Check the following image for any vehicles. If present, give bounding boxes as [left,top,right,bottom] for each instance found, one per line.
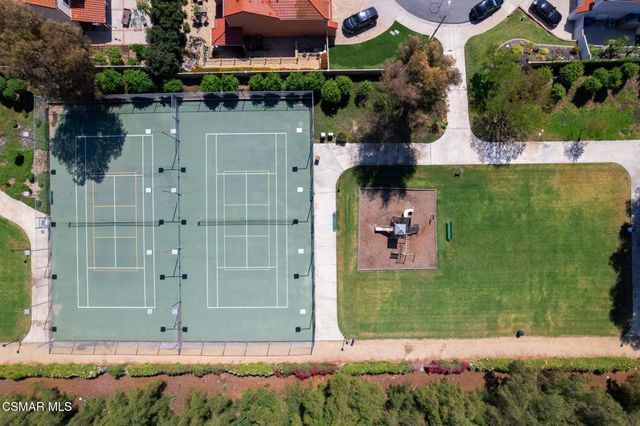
[468,0,506,24]
[342,7,379,34]
[528,0,563,28]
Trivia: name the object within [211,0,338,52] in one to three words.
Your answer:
house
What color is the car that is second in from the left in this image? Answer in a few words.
black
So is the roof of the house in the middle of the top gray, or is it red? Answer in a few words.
red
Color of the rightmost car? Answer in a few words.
black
